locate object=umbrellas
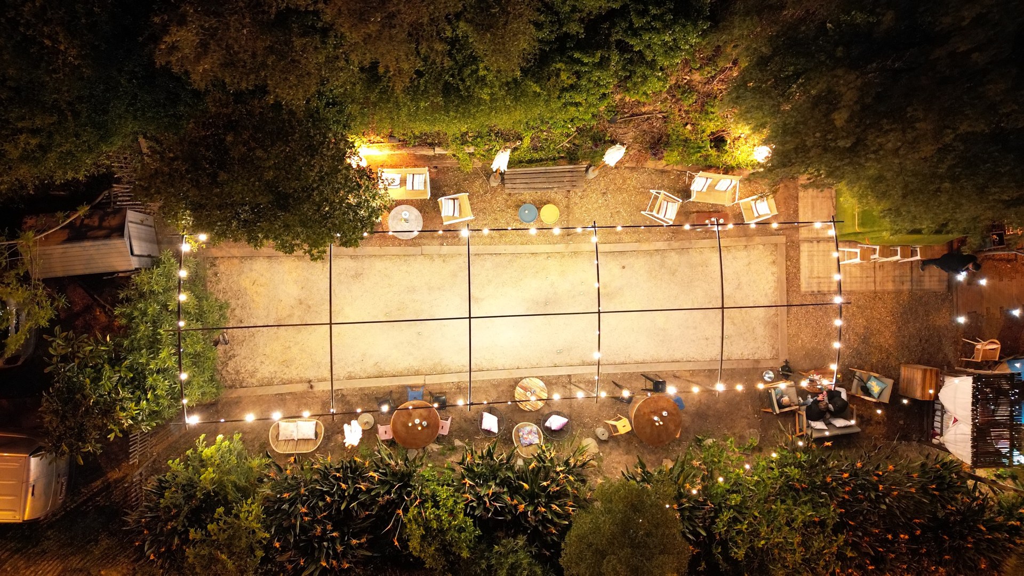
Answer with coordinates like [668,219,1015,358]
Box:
[490,140,518,187]
[348,413,374,450]
[586,140,627,177]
